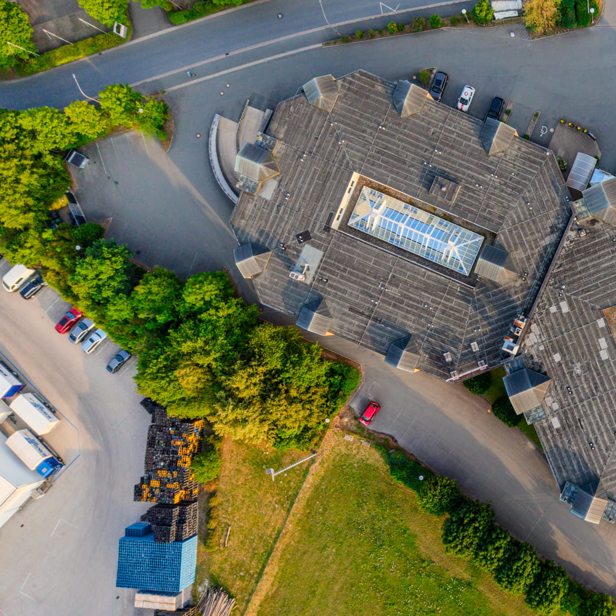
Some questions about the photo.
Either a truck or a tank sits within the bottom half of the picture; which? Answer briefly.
truck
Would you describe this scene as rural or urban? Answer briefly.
urban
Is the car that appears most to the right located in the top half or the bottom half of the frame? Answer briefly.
top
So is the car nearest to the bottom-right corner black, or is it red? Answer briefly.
red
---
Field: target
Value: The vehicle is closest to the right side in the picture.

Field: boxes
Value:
[482,94,504,120]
